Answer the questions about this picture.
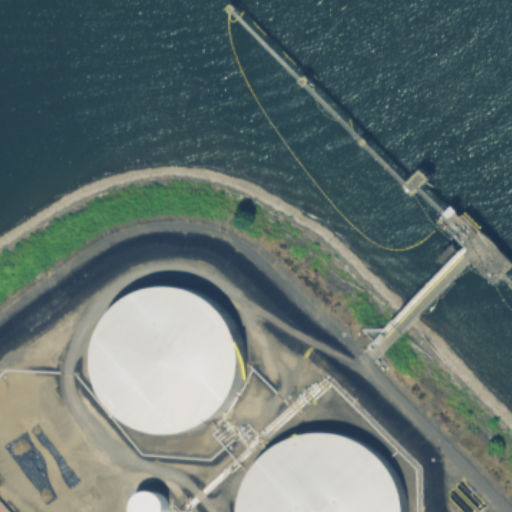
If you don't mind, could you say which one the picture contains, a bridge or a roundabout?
bridge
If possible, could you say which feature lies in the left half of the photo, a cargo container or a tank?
tank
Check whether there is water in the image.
Yes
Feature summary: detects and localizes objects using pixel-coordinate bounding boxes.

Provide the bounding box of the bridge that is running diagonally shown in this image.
[362,246,476,358]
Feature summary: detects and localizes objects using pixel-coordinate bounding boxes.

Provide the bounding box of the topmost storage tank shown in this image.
[88,285,247,438]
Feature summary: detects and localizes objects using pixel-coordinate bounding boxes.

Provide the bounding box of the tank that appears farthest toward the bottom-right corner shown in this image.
[238,430,412,512]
